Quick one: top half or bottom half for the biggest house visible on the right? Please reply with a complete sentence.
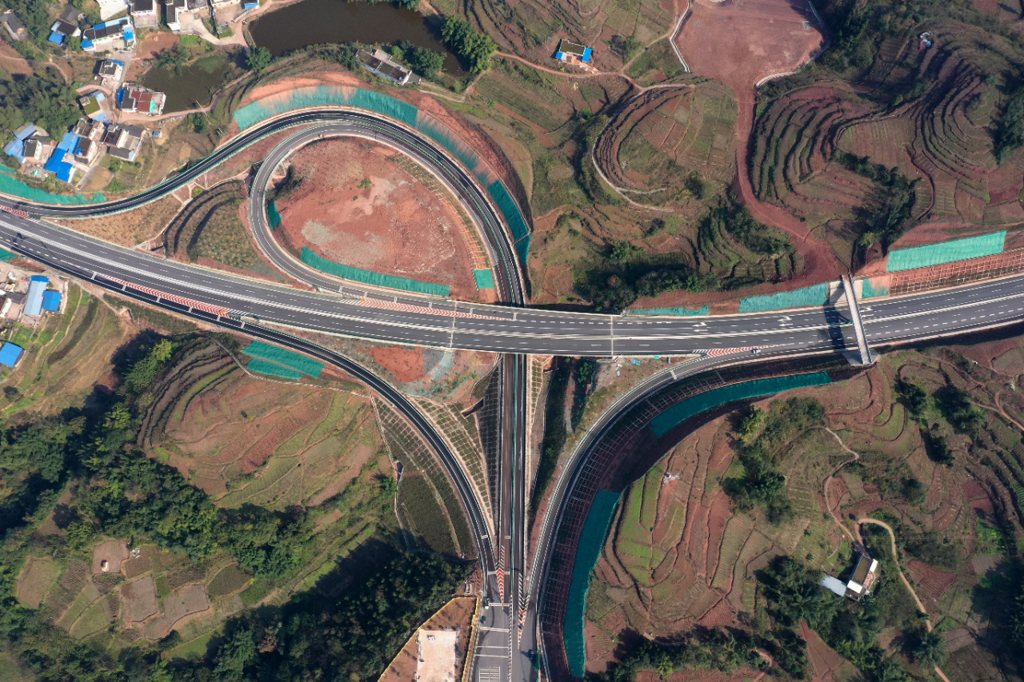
It is in the bottom half that the biggest house visible on the right appears.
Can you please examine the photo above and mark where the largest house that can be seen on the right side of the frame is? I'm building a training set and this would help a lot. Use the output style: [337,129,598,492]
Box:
[844,553,878,602]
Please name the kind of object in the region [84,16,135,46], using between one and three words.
house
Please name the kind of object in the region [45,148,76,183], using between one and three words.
shed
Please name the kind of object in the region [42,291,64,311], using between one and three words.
shed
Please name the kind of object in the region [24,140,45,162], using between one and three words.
house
